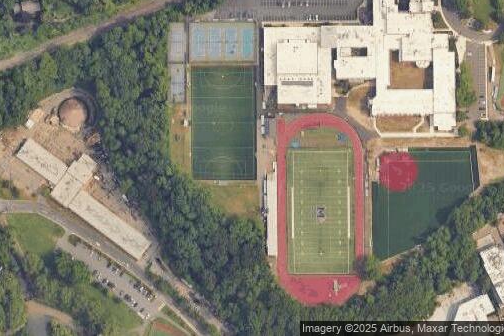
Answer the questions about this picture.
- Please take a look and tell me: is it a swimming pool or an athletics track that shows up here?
athletics track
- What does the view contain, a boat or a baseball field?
baseball field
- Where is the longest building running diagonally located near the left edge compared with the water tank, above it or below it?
below it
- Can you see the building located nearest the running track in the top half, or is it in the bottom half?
top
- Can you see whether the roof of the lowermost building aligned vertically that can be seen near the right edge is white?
Yes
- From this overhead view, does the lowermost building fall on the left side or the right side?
right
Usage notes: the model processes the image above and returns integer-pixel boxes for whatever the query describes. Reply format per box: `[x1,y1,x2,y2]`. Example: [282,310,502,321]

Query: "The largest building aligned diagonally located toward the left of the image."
[16,139,151,261]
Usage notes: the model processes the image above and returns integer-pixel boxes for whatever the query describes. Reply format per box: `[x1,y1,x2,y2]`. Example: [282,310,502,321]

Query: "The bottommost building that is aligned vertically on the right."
[479,245,504,305]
